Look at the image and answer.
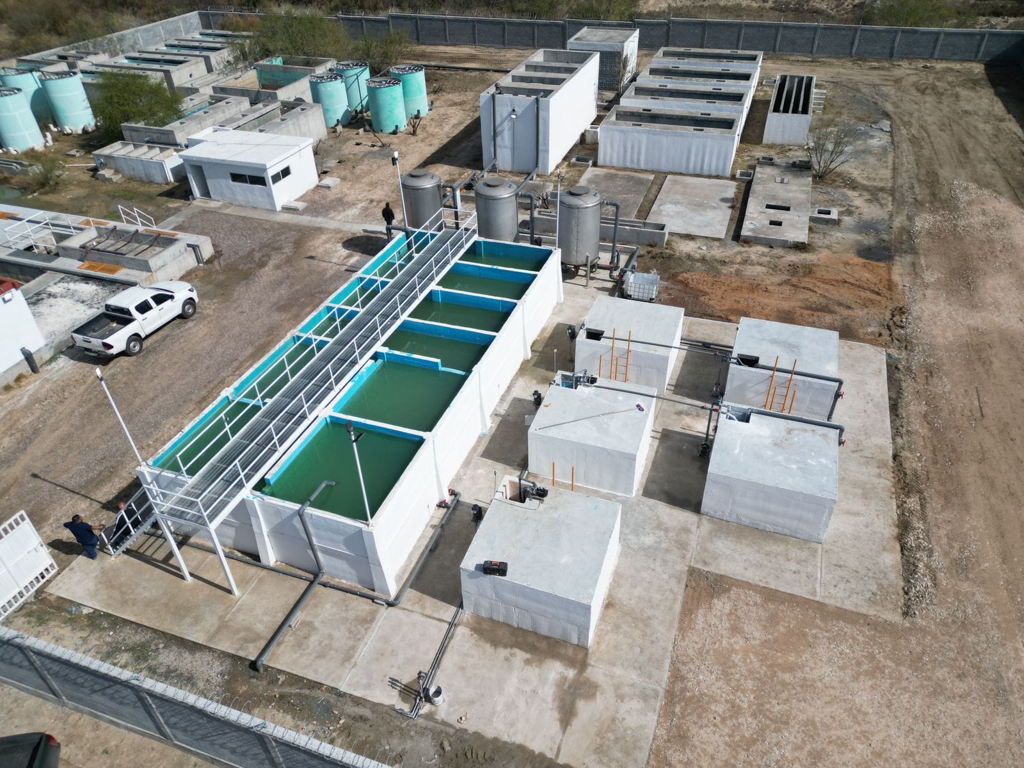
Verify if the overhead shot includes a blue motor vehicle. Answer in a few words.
No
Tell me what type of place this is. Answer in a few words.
industrial area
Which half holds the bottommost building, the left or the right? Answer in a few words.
left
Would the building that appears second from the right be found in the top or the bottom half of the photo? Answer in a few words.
top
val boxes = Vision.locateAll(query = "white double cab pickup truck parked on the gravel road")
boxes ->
[75,284,202,362]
